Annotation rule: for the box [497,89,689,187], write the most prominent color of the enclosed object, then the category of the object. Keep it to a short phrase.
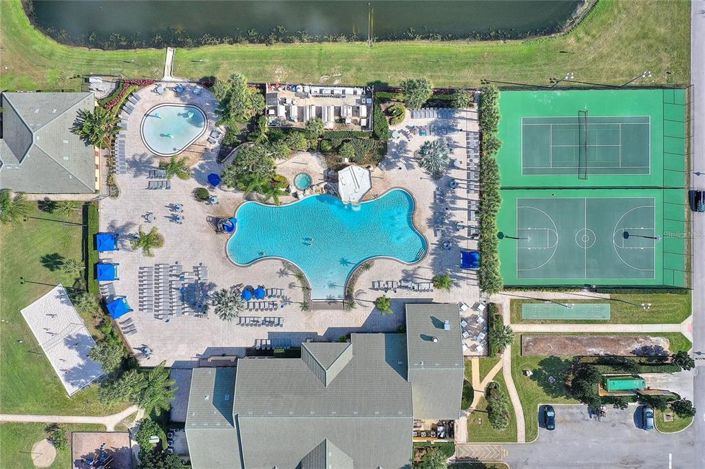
green tennis court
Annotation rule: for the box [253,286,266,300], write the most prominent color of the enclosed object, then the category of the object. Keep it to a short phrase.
blue umbrella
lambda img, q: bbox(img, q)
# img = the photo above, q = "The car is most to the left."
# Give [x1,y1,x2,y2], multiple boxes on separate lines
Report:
[545,404,558,430]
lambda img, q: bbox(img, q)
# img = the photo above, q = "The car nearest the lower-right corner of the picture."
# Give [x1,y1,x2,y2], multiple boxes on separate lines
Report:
[642,406,655,430]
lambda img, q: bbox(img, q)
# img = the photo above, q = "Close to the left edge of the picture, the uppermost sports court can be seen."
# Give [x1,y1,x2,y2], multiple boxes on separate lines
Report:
[19,283,106,399]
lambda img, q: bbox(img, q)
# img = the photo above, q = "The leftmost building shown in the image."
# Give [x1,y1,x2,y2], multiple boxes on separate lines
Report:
[0,92,103,192]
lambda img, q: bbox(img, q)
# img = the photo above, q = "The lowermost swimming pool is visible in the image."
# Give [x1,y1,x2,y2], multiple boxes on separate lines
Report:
[224,186,430,302]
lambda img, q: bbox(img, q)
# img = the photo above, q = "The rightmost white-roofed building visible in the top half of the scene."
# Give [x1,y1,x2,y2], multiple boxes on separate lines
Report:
[335,163,373,204]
